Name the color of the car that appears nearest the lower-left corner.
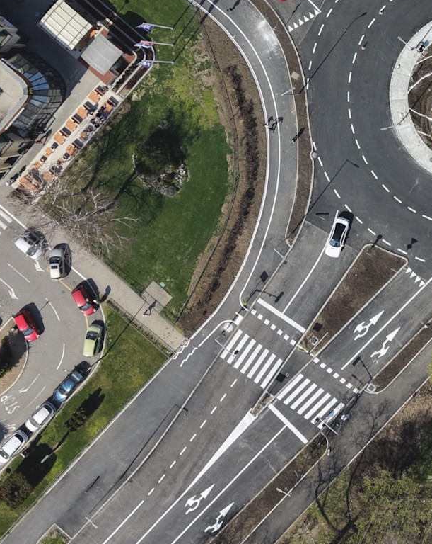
white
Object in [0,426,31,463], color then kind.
white car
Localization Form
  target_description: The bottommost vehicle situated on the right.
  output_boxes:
[326,215,351,258]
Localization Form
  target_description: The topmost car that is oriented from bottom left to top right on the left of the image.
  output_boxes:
[51,367,89,406]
